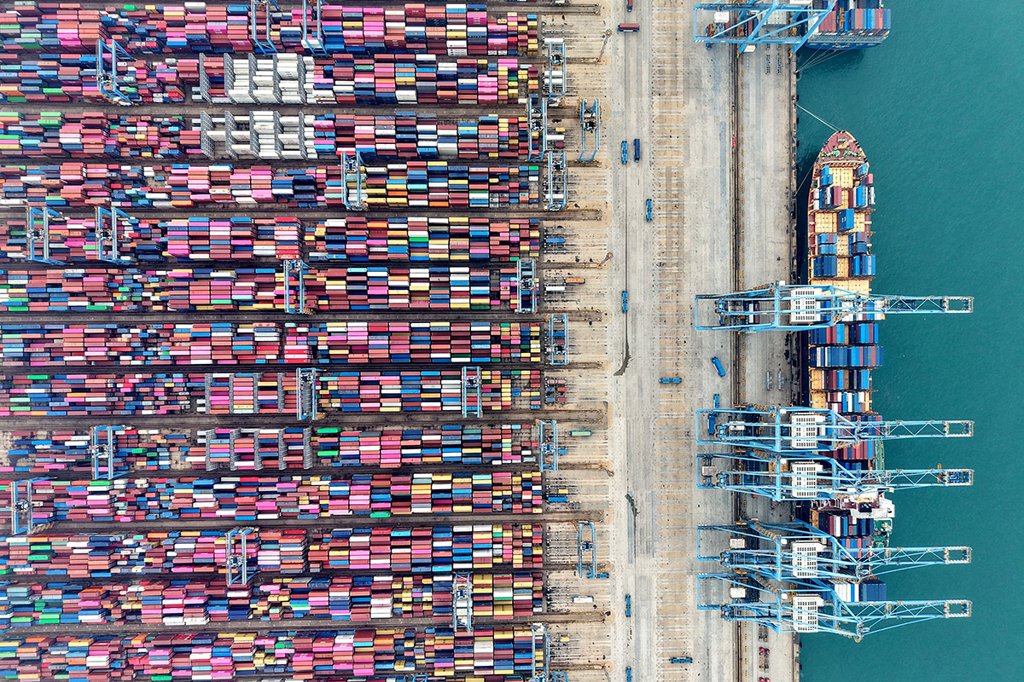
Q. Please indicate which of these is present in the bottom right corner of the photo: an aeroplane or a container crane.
container crane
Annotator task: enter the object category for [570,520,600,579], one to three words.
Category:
crane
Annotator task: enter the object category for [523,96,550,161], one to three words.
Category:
crane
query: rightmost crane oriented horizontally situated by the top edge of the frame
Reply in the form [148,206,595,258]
[692,0,852,64]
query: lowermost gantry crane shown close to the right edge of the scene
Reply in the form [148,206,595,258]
[696,558,973,641]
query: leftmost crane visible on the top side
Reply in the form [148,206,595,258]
[28,205,74,264]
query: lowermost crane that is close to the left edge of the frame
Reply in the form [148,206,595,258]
[11,476,59,534]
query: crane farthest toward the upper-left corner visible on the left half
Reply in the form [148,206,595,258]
[93,37,139,107]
